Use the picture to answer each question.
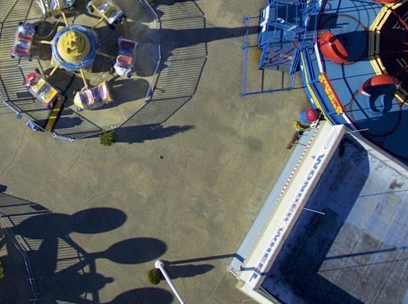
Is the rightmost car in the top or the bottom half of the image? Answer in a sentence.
The top half of the photo is where the rightmost car is.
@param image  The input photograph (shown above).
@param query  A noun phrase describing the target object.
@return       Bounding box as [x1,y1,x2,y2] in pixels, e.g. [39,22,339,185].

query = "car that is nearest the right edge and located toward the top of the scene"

[114,41,137,75]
